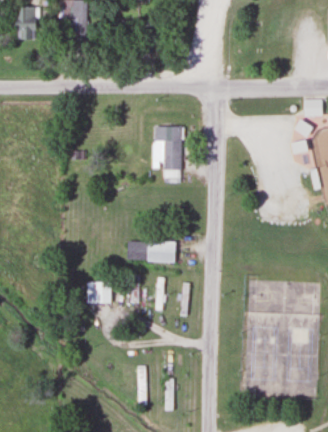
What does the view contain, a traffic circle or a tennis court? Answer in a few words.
tennis court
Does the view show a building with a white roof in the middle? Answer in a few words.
Yes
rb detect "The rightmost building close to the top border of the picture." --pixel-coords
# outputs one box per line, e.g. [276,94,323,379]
[64,0,88,36]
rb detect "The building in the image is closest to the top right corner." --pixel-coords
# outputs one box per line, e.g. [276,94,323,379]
[304,99,323,117]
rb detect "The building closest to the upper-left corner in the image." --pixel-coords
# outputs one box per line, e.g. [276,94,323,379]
[16,7,36,40]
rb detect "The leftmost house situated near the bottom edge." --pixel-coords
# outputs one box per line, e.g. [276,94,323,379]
[137,365,150,410]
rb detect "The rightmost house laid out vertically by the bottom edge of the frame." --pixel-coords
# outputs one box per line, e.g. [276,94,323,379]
[165,378,178,412]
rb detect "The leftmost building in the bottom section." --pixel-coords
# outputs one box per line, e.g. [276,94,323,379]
[88,282,112,306]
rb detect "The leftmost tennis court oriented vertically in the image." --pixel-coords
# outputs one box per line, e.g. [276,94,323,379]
[244,314,284,397]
